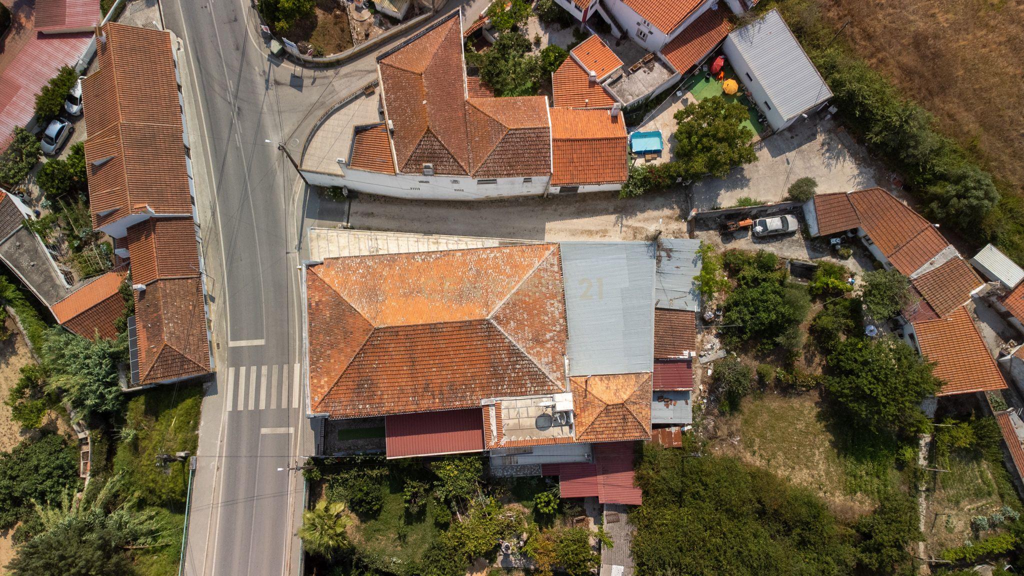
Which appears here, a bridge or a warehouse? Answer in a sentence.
Visible in the photo is a warehouse.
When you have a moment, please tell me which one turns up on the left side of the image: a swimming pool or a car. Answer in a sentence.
It is a car that can be seen on the left side of the image.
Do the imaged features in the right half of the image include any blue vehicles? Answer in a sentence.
No, looking in the right half of the image, there is no blue vehicle.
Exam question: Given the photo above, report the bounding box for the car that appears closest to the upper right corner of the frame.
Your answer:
[750,213,799,239]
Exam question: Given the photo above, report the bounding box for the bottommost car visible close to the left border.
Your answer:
[39,117,78,157]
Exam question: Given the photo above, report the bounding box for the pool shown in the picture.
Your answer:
[629,130,664,157]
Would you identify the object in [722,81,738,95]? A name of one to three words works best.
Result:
umbrella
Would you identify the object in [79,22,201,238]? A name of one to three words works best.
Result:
house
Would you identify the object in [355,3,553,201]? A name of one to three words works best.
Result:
house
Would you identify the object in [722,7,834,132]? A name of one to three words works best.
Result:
warehouse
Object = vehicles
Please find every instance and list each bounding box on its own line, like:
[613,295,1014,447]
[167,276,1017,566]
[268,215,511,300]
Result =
[39,117,78,157]
[64,76,84,118]
[750,213,799,239]
[720,217,753,236]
